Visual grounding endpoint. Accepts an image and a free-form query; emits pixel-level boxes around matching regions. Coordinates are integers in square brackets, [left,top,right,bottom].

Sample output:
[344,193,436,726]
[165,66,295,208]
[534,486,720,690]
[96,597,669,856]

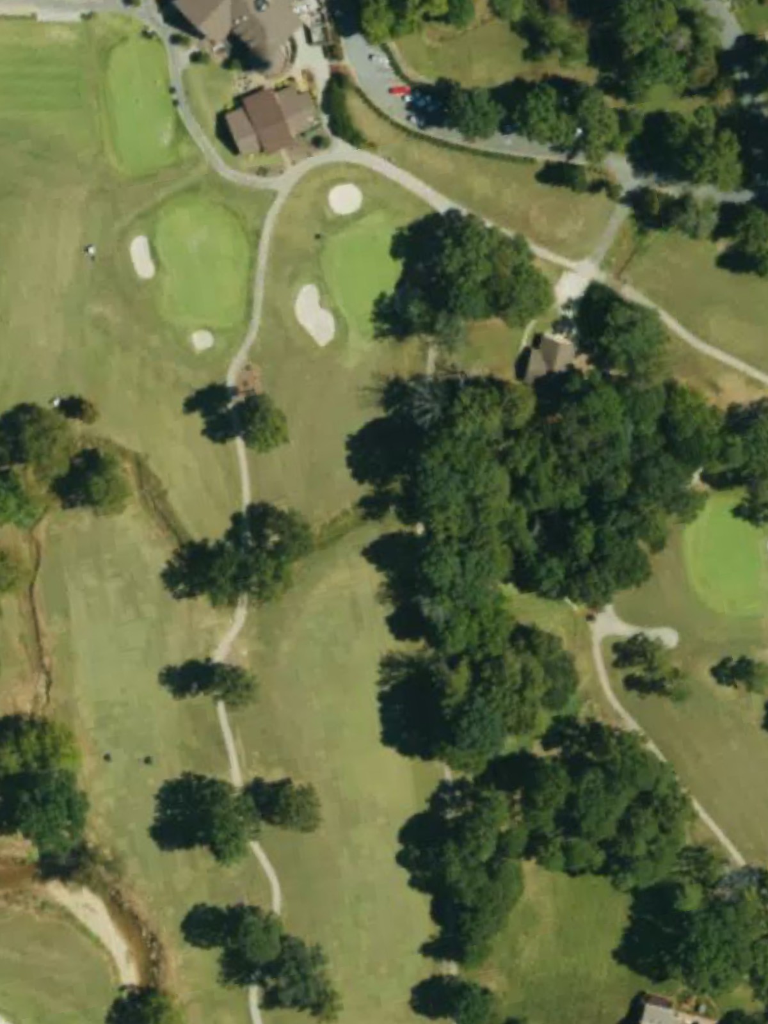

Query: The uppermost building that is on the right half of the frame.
[526,337,575,388]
